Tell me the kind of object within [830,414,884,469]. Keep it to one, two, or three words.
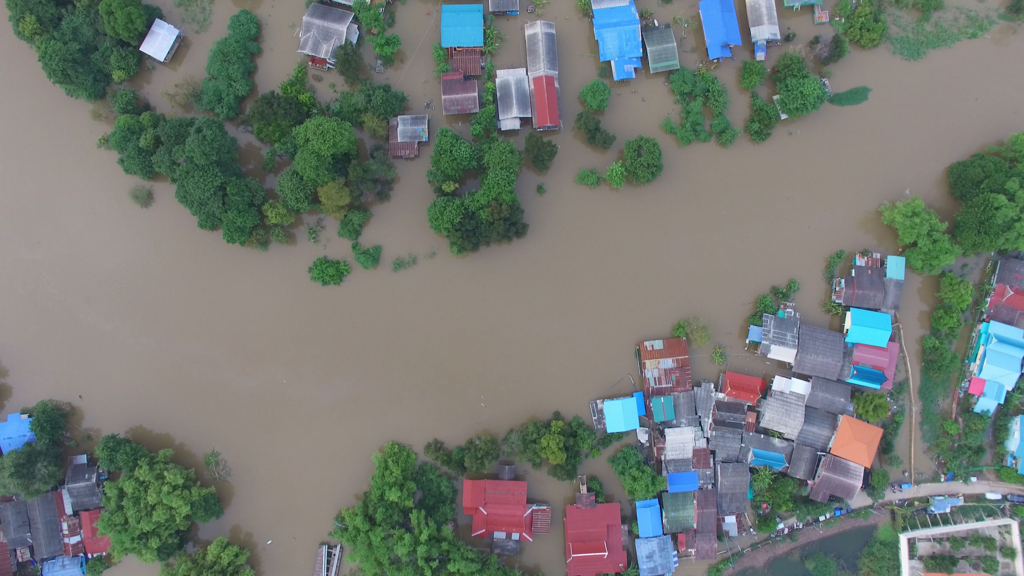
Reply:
house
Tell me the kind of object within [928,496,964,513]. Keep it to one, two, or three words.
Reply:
shed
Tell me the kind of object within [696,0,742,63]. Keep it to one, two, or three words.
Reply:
house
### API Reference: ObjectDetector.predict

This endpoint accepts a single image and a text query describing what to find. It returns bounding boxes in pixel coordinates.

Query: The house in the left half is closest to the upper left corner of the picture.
[140,22,188,66]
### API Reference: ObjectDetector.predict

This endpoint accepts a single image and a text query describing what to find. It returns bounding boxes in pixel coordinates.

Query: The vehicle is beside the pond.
[834,506,854,520]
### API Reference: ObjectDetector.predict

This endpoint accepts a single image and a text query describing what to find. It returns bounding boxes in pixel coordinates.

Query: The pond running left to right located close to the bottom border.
[735,522,877,576]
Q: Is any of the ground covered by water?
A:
Yes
